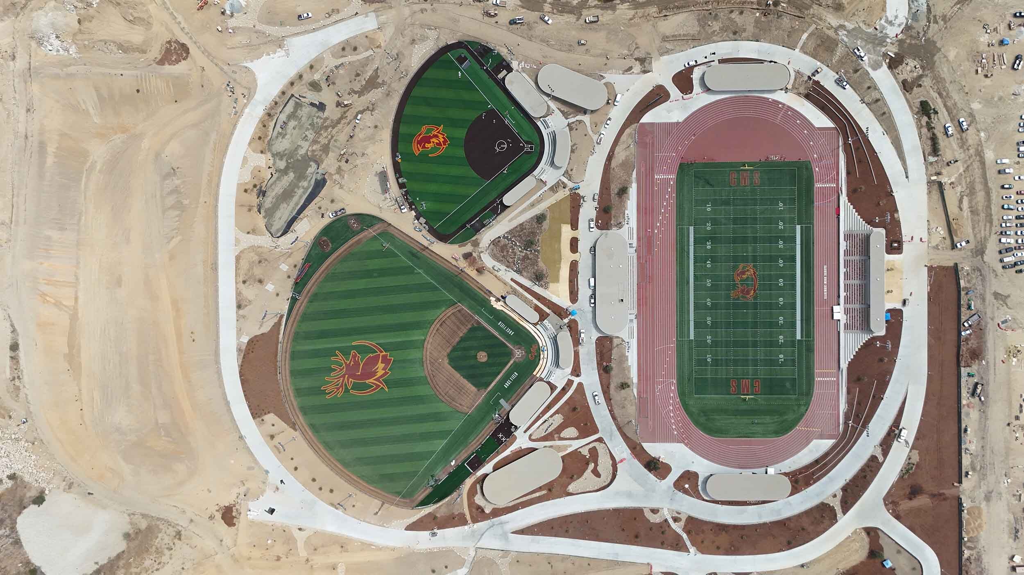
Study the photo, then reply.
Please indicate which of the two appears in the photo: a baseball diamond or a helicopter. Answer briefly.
baseball diamond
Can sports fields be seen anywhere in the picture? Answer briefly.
Yes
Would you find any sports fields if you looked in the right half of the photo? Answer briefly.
Yes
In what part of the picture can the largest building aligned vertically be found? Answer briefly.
center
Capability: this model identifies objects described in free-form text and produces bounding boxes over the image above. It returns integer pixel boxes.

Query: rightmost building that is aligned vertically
[596,232,629,335]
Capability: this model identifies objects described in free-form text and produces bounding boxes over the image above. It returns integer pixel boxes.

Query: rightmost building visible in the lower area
[706,473,791,501]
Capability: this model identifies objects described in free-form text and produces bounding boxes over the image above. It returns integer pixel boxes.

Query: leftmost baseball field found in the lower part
[289,227,538,504]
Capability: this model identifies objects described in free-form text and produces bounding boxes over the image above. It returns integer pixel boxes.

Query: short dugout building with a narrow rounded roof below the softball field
[503,176,536,206]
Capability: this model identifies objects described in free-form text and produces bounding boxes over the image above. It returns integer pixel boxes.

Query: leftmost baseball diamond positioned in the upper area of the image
[398,48,539,236]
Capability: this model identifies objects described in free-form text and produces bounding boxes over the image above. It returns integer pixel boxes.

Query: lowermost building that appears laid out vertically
[557,331,574,370]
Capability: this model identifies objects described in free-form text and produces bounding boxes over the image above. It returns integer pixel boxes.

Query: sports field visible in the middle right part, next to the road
[677,161,814,438]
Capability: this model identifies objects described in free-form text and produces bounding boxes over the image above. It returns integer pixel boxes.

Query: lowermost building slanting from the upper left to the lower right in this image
[506,295,539,323]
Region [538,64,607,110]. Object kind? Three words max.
building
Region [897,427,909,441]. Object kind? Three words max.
vehicle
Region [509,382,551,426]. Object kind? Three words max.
building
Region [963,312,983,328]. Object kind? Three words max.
vehicle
